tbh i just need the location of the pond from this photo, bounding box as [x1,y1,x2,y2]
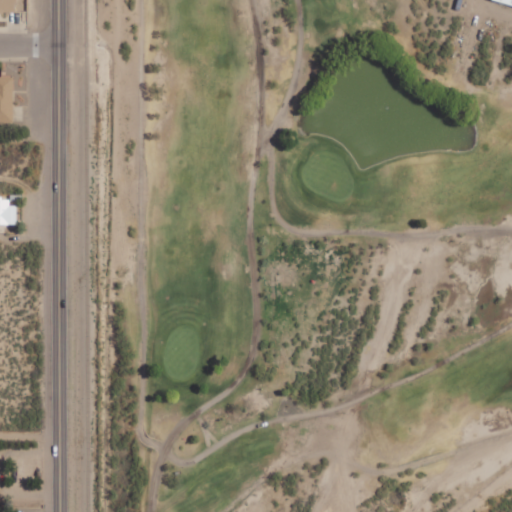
[299,46,476,168]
